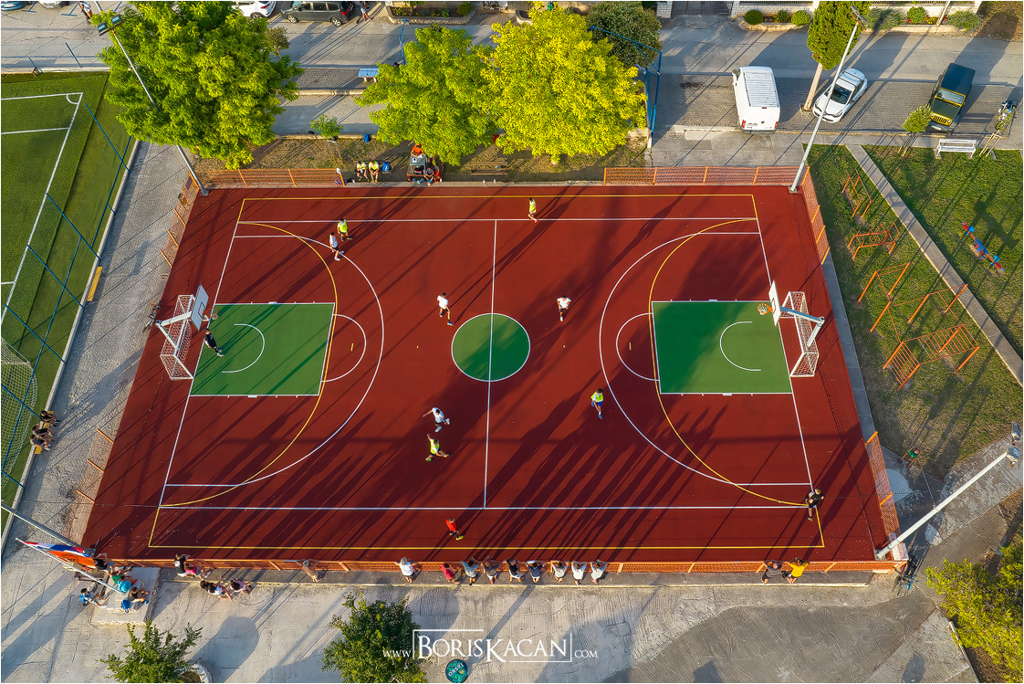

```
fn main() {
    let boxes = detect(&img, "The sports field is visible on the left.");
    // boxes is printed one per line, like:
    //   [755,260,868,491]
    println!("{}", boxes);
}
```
[0,70,141,570]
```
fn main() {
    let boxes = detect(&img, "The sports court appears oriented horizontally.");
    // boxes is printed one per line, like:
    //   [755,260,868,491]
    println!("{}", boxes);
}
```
[81,182,895,570]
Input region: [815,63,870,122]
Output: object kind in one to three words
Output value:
car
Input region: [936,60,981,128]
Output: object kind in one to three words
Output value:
car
